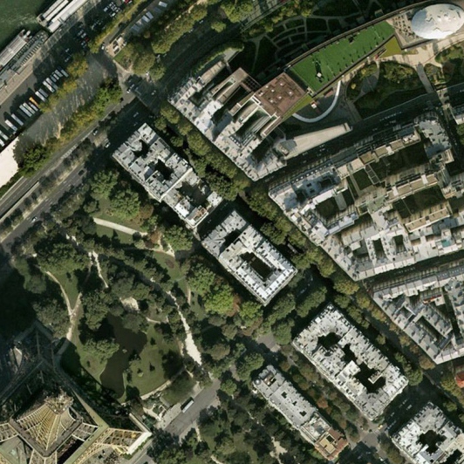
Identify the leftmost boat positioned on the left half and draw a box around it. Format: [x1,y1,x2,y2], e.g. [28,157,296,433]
[0,29,31,68]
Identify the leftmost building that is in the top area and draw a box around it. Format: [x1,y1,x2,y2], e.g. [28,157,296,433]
[111,123,192,203]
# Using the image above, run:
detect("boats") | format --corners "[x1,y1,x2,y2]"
[49,0,89,33]
[0,29,31,68]
[39,0,70,26]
